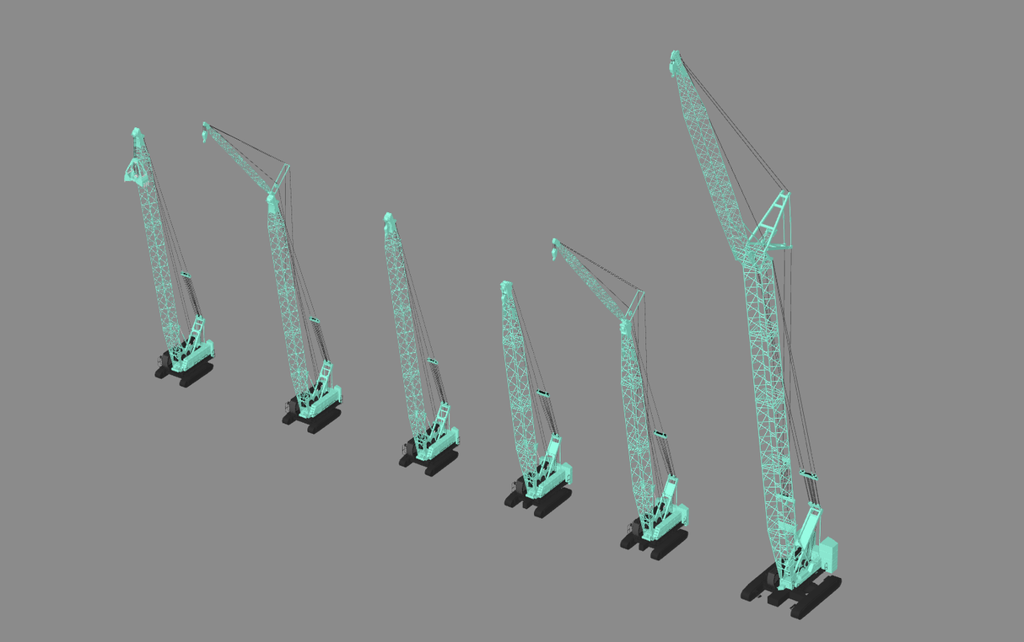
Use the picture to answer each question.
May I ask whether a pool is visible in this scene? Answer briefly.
No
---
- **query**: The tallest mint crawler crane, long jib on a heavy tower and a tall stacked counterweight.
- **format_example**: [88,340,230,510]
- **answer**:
[671,50,842,619]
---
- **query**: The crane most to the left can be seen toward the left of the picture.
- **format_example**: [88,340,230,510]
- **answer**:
[130,129,216,388]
